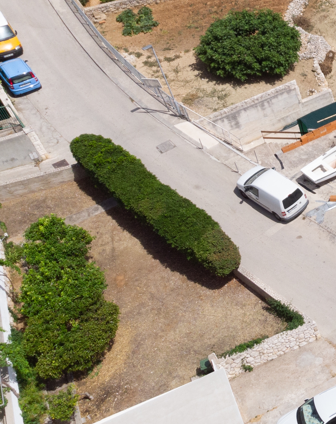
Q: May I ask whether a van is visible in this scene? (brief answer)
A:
Yes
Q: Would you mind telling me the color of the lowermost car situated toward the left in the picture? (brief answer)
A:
blue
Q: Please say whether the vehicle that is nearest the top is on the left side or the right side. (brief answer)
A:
left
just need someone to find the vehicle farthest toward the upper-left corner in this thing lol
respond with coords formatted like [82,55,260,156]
[0,0,23,52]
